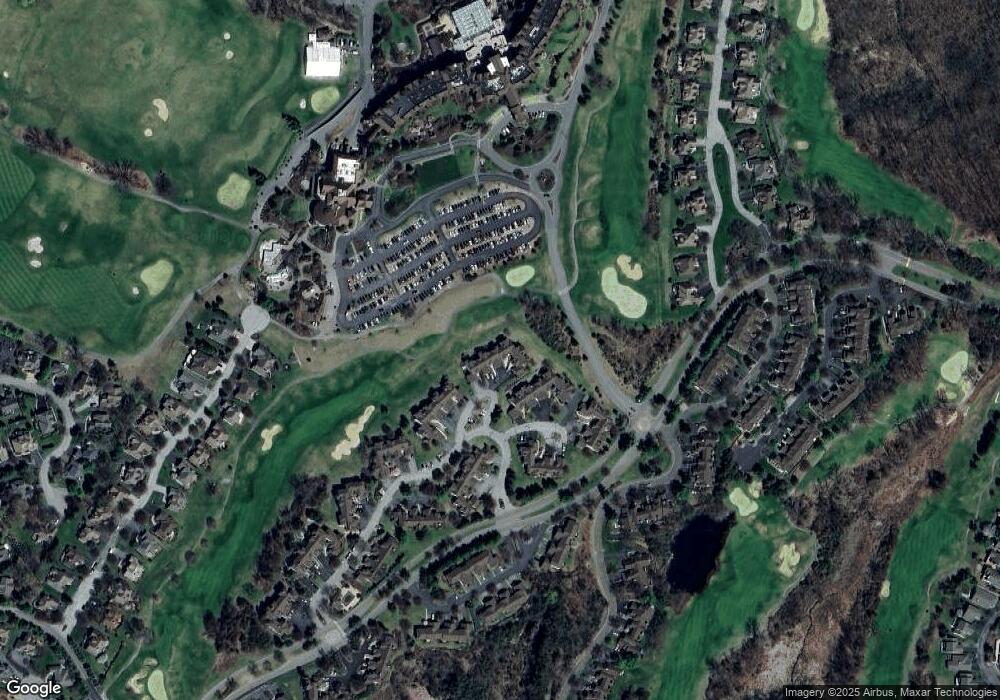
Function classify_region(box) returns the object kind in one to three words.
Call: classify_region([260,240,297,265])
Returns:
building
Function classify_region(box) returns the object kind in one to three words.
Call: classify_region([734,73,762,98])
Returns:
house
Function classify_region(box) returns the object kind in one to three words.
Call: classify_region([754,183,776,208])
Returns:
house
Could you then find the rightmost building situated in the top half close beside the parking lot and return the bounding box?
[367,0,569,134]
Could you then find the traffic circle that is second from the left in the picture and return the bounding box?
[529,160,563,200]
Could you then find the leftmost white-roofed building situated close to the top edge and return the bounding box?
[306,34,340,73]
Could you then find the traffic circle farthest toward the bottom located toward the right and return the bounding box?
[622,405,673,442]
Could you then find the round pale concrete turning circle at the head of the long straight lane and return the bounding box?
[242,305,271,334]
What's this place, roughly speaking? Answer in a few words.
golf course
